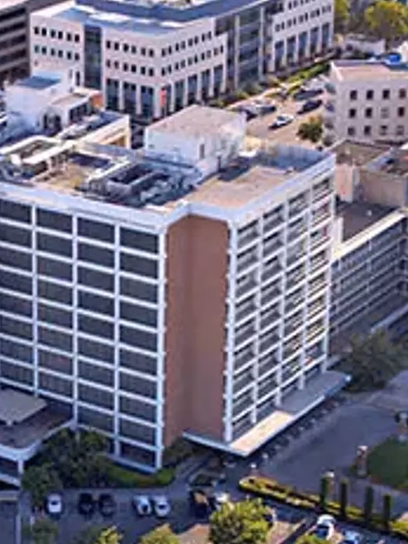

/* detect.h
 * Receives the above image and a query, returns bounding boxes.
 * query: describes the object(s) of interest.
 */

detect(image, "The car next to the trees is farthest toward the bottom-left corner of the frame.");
[46,492,61,511]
